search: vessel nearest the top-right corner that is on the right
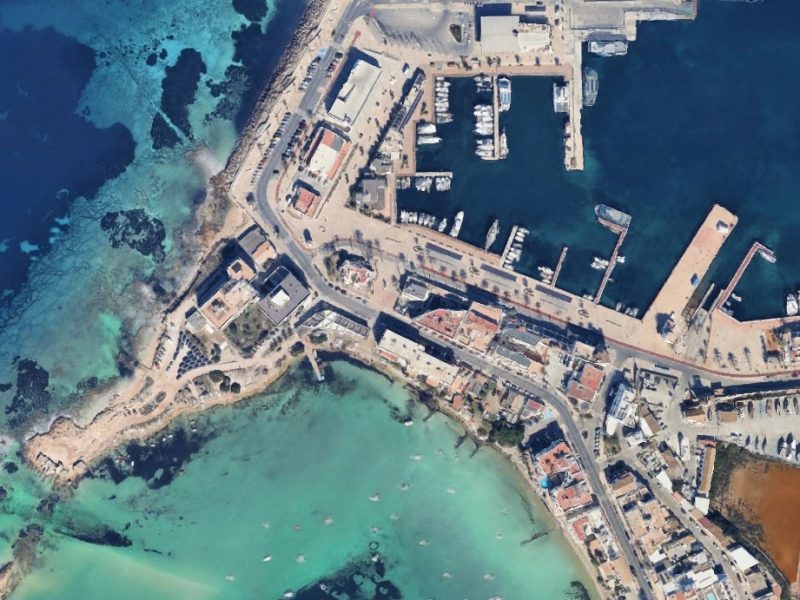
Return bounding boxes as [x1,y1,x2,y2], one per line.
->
[588,41,627,54]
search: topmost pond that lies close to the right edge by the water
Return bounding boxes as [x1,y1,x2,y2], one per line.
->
[721,457,800,587]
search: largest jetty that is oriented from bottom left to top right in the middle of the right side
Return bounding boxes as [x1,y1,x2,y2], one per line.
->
[641,204,737,335]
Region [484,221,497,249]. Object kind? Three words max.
boat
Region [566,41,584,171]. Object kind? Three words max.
pier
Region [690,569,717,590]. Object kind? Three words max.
house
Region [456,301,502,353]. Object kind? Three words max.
building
